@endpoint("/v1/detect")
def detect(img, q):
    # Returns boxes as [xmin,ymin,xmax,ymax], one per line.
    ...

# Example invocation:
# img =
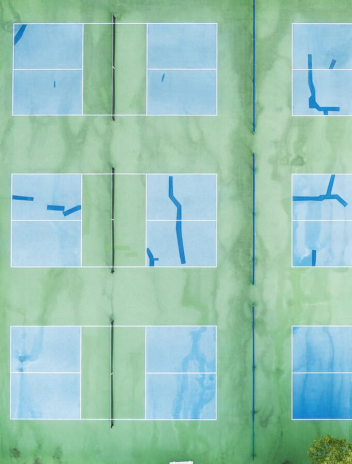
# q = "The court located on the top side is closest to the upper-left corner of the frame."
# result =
[12,23,217,116]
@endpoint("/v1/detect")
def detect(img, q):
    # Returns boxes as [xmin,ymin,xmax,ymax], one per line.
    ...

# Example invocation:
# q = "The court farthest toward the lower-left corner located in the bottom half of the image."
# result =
[10,326,216,421]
